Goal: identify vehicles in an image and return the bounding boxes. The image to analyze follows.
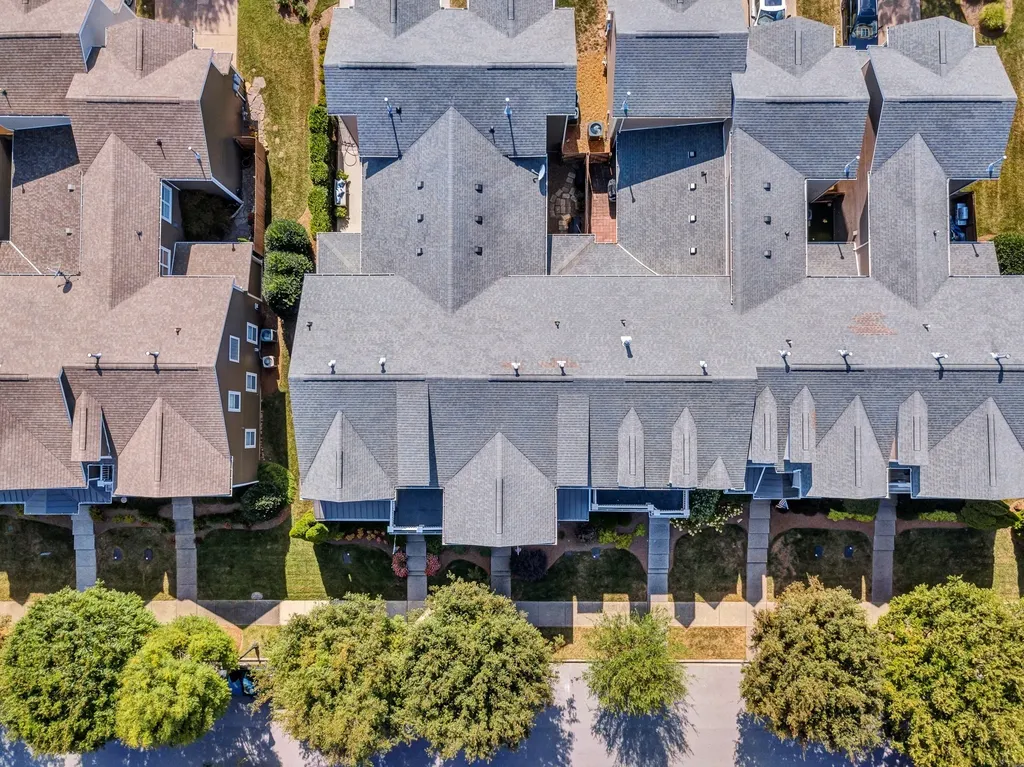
[845,0,887,55]
[756,0,789,24]
[206,662,274,698]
